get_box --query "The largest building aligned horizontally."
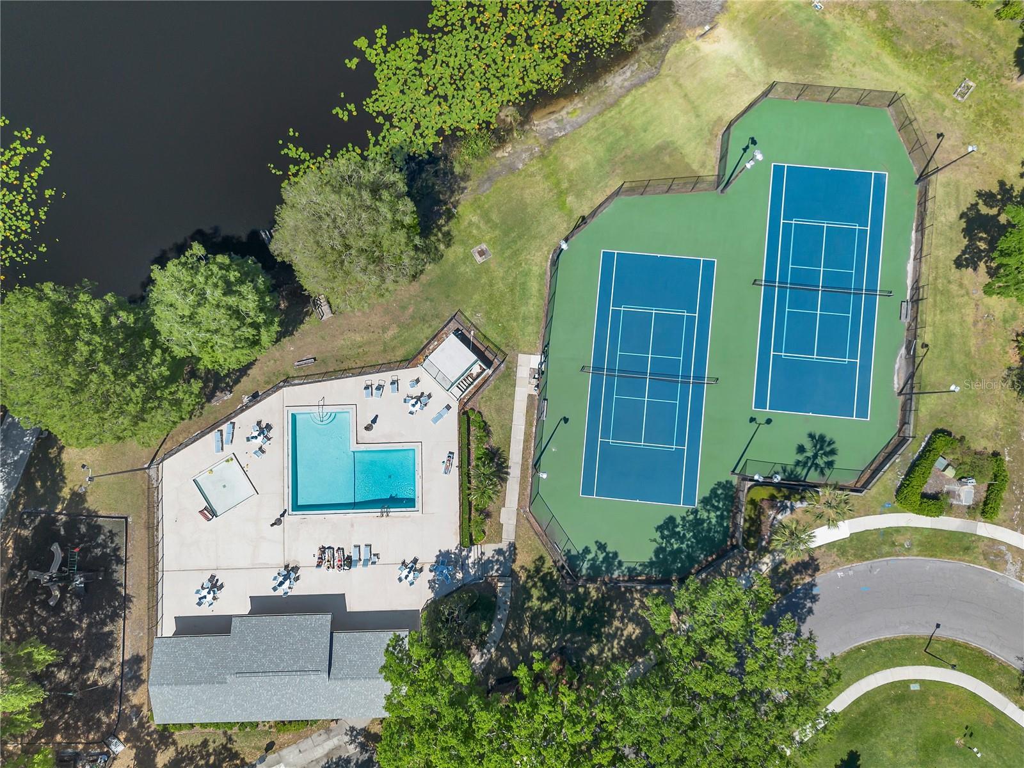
[148,612,413,722]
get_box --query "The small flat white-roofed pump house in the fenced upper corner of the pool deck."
[423,333,490,401]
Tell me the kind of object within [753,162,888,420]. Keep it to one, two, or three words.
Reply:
tennis court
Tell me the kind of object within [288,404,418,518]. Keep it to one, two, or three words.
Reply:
swimming pool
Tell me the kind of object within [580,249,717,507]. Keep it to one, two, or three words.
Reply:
tennis court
